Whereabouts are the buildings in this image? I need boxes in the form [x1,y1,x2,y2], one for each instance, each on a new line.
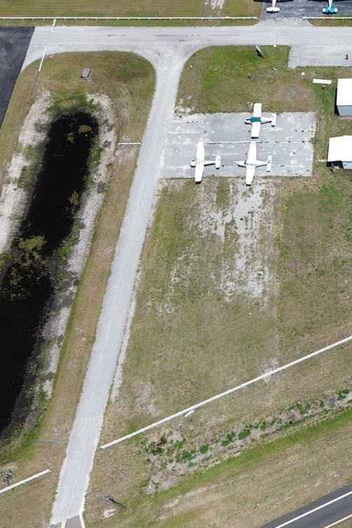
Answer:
[338,78,352,115]
[328,136,352,168]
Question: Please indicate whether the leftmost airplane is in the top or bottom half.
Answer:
top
